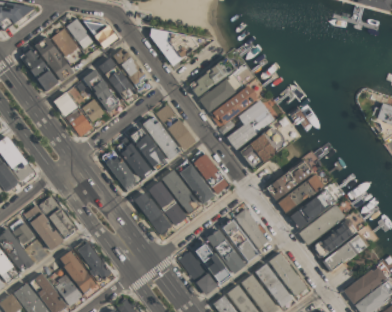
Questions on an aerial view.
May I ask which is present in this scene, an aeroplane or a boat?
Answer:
boat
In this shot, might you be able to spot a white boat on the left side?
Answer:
No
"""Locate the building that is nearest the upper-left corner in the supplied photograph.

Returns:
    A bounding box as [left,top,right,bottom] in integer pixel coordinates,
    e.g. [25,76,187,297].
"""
[0,2,34,30]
